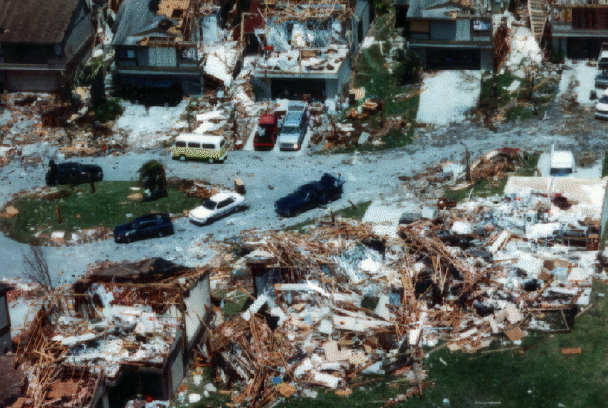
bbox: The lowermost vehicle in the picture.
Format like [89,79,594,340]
[113,212,174,244]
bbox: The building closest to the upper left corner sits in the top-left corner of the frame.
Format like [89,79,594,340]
[0,0,98,93]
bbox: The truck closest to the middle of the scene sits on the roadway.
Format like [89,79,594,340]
[269,161,353,215]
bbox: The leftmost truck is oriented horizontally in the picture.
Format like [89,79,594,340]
[38,154,108,185]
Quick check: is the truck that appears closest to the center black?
Yes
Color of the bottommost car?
black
